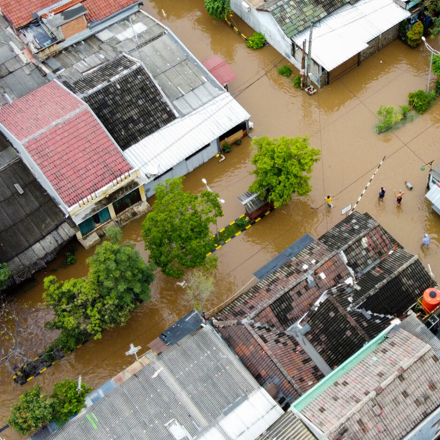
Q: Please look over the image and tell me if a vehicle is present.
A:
No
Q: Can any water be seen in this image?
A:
Yes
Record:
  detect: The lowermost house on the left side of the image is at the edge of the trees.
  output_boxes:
[31,309,284,440]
